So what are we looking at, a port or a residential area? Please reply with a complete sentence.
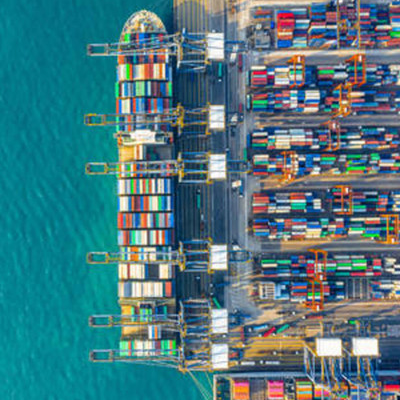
It's a port.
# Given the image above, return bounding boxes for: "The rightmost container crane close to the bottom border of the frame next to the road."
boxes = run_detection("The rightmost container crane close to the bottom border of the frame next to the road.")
[330,314,384,400]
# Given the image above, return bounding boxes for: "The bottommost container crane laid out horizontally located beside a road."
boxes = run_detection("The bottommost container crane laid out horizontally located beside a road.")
[90,326,251,370]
